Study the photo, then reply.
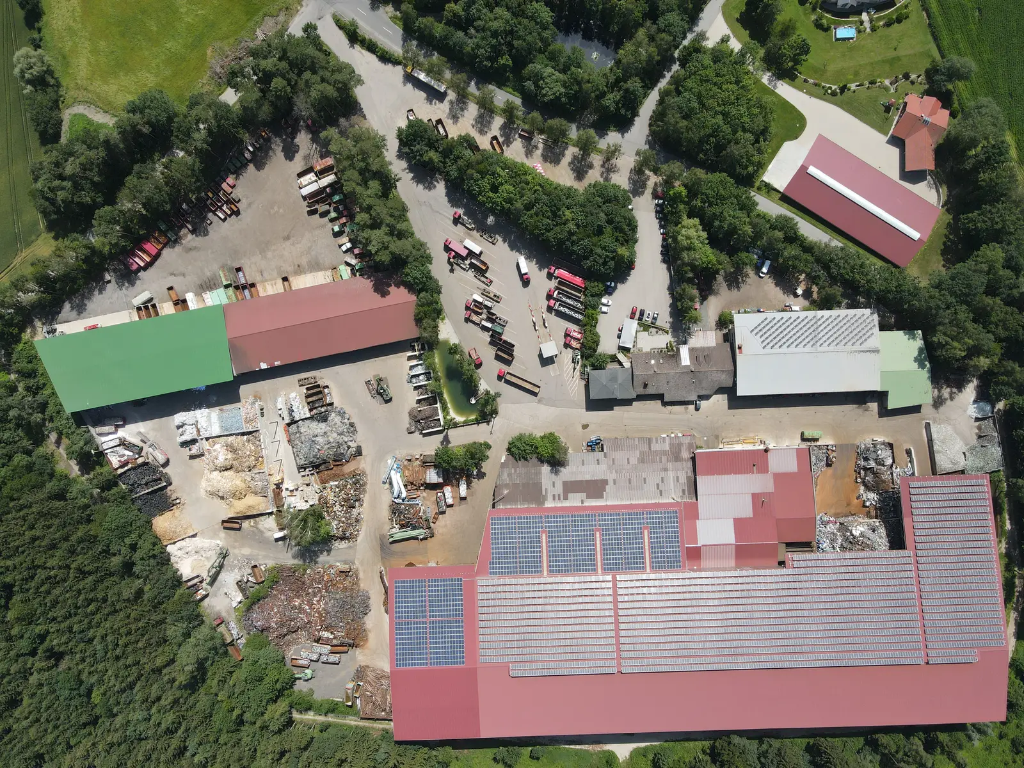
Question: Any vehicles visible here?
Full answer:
Yes, this view includes a vehicle.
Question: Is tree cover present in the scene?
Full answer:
Yes, there's tree cover in this view.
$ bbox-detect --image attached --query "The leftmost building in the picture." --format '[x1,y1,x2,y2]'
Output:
[35,305,241,413]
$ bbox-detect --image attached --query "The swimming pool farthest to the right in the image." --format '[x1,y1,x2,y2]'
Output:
[832,24,858,42]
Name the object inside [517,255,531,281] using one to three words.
vehicle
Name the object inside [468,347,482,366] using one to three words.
vehicle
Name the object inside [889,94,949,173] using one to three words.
house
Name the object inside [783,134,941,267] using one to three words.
building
